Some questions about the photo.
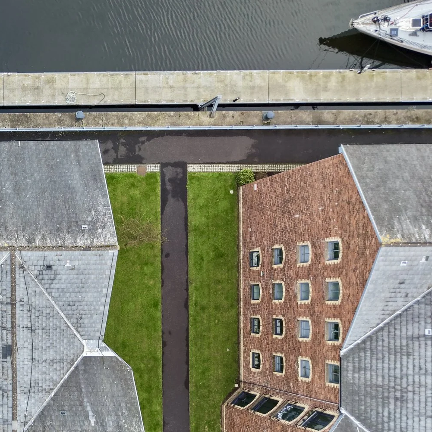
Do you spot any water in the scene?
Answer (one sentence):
Yes, the picture does contain water.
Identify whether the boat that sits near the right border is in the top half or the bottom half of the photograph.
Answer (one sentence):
The boat that sits near the right border sits in the top half of the picture.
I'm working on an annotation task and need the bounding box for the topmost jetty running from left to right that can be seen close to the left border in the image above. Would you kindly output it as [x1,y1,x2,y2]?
[2,71,136,105]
